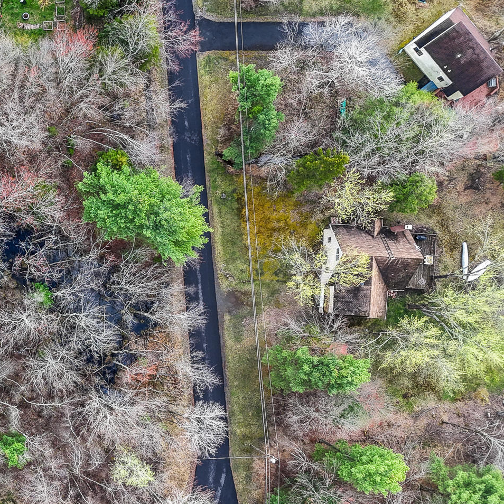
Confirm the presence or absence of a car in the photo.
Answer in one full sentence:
No, there is no car in the image.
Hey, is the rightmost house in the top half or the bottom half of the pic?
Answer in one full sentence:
The rightmost house is in the top half of the image.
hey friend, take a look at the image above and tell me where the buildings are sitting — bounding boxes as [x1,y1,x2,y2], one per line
[317,222,441,320]
[405,6,504,108]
